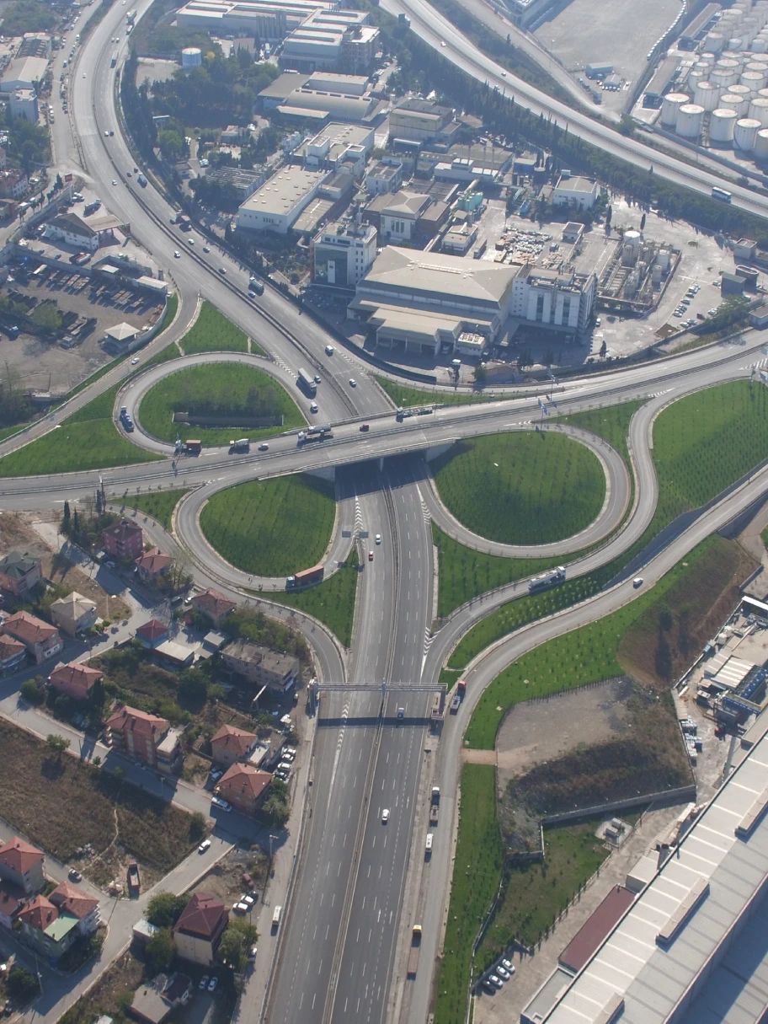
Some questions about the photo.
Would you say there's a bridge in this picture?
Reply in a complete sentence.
Yes, there's a bridge down there.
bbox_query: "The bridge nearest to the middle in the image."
[291,398,462,481]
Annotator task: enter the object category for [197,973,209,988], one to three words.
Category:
vehicle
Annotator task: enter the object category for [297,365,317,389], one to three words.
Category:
vehicle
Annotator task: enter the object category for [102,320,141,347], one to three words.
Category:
building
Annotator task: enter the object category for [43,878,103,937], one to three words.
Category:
house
